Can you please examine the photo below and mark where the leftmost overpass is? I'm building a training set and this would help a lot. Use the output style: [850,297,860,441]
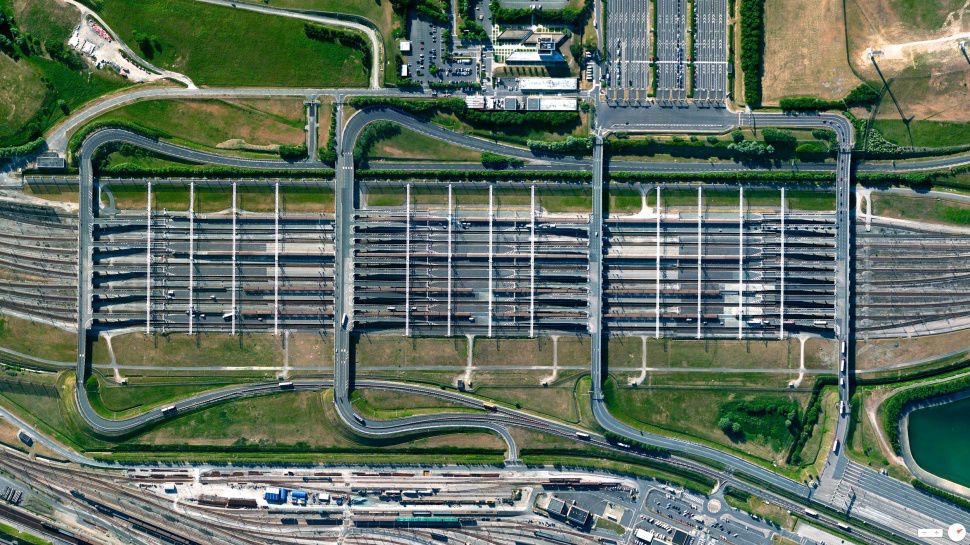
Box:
[77,162,94,384]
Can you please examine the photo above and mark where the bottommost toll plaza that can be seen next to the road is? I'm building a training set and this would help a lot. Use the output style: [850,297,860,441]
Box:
[811,461,970,545]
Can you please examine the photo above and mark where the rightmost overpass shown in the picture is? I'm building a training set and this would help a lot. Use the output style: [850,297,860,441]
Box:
[835,150,853,414]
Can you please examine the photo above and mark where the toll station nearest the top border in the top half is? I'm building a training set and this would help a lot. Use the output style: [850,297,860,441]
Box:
[604,0,728,98]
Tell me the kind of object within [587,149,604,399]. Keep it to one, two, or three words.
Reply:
overpass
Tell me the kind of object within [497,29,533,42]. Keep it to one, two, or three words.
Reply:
building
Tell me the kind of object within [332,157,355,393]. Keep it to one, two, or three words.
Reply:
overpass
